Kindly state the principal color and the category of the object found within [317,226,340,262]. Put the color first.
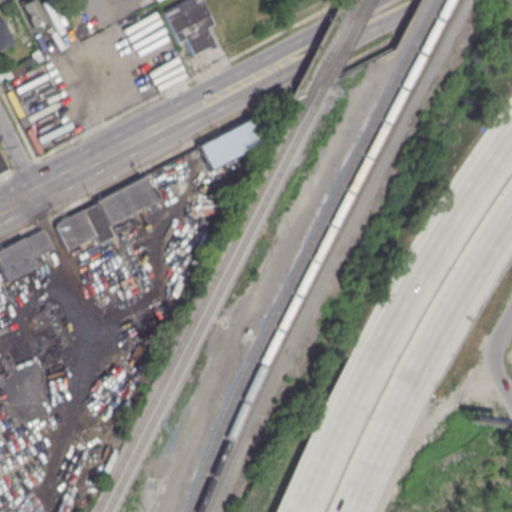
white rail car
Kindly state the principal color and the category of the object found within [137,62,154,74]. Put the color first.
red vehicle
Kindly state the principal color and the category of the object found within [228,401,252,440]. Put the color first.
white rail car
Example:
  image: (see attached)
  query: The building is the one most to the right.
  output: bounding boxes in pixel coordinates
[202,120,256,170]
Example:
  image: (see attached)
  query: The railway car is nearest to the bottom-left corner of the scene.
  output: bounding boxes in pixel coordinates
[190,474,214,512]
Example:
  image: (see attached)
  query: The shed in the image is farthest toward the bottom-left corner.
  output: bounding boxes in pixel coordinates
[0,230,56,282]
